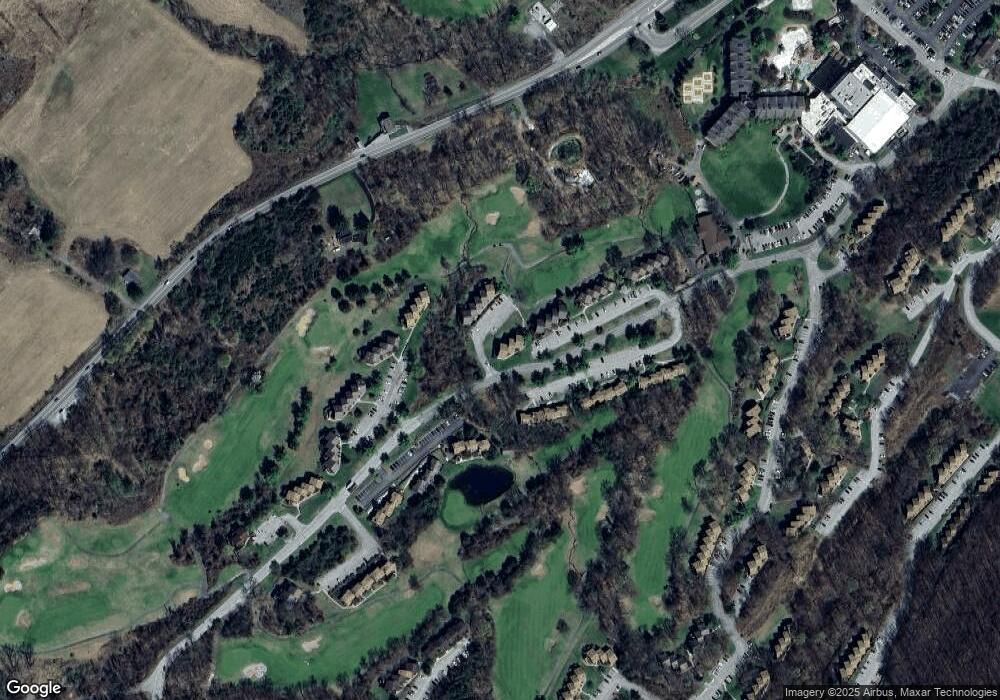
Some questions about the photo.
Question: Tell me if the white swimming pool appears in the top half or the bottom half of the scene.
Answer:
top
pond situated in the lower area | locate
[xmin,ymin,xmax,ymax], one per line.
[449,464,514,503]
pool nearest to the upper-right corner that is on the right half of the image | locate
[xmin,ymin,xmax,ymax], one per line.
[763,20,818,94]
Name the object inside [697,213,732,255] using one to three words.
building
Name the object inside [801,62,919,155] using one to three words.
building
